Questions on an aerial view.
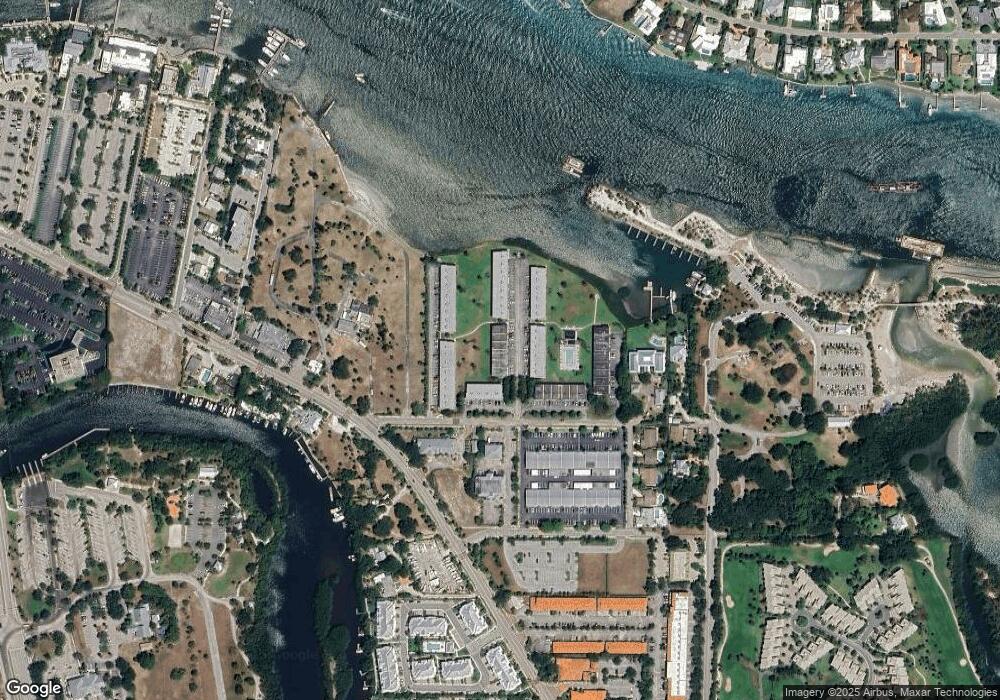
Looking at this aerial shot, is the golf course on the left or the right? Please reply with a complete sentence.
It is on the right.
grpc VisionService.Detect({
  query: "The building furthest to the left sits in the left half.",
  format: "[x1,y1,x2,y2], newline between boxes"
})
[3,37,47,71]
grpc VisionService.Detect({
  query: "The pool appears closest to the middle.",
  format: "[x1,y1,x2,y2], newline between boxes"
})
[561,345,579,370]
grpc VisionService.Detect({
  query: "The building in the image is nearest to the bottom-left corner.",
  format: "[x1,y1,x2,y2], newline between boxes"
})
[66,677,104,699]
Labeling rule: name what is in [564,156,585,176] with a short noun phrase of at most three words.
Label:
ship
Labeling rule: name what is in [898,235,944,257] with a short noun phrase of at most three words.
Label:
ship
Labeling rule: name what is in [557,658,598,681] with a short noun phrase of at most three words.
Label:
building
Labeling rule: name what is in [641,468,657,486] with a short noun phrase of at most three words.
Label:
house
